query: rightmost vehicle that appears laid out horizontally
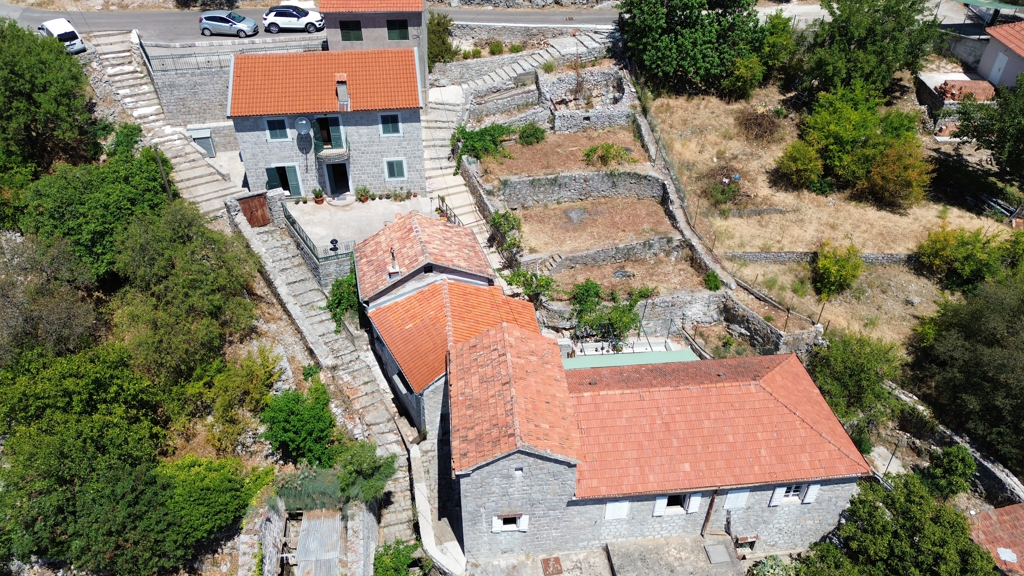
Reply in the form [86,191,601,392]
[258,3,326,33]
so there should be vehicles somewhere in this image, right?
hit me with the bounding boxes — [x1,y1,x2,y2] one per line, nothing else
[193,8,260,38]
[32,20,90,59]
[258,3,326,33]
